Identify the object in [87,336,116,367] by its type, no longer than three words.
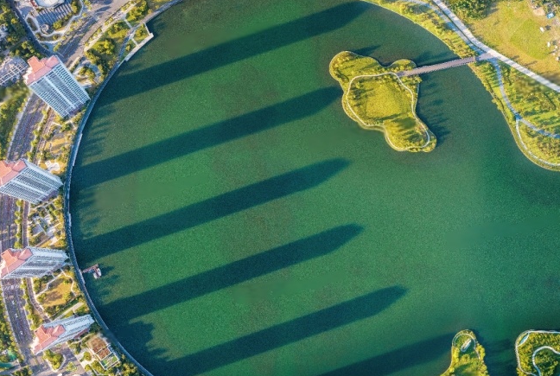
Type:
building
